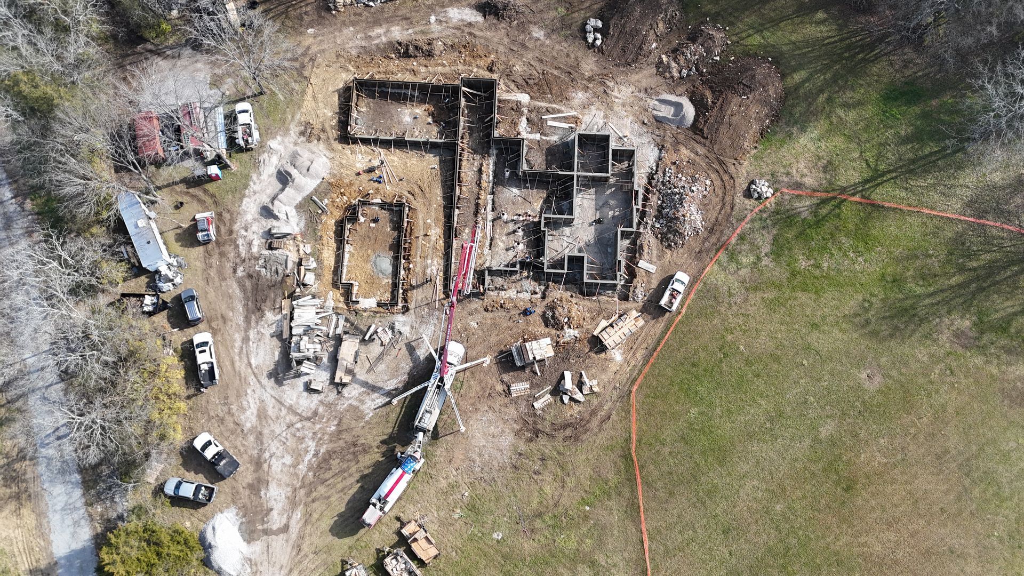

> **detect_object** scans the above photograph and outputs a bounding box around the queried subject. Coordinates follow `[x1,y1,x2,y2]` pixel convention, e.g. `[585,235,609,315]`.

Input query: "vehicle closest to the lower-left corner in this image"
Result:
[164,475,222,505]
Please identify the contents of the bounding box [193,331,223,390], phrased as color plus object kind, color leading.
white truck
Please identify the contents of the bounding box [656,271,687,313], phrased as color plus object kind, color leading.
white truck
